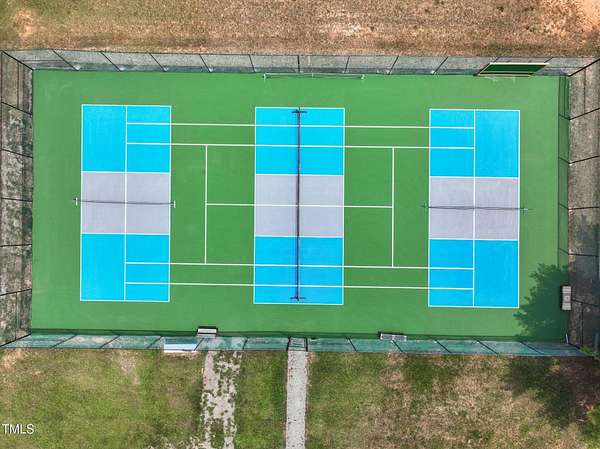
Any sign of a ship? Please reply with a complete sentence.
No, no ship can be seen from above.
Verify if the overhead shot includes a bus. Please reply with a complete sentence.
No, there appears to be no bus in this shot.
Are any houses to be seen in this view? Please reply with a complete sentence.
No, this view has no house in it.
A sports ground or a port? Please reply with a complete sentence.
The area seen from above is a sports ground.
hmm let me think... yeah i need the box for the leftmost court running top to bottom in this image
[79,105,171,302]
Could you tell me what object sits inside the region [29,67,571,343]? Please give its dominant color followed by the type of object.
green tennis court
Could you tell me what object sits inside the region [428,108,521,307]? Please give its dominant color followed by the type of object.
blue sports court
